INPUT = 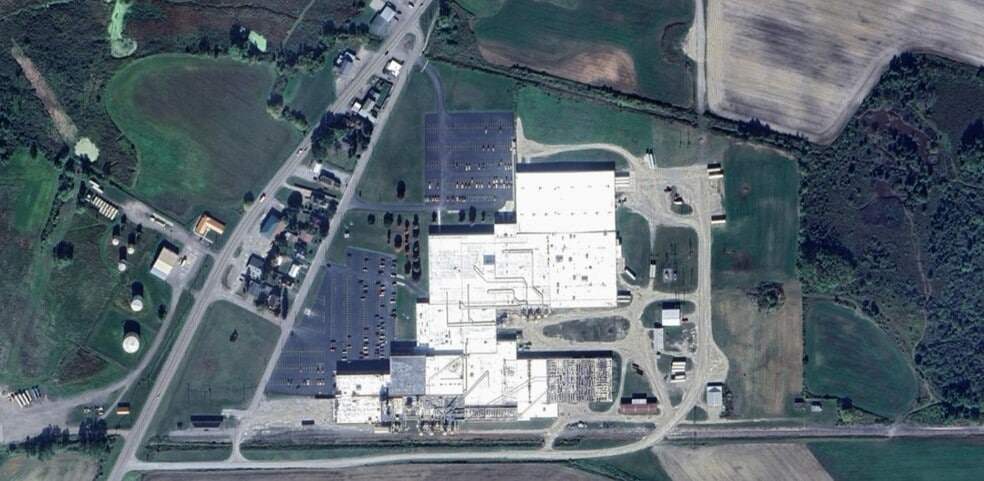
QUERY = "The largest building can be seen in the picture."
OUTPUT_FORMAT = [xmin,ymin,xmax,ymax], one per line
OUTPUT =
[336,169,621,422]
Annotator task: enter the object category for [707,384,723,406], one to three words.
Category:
barn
